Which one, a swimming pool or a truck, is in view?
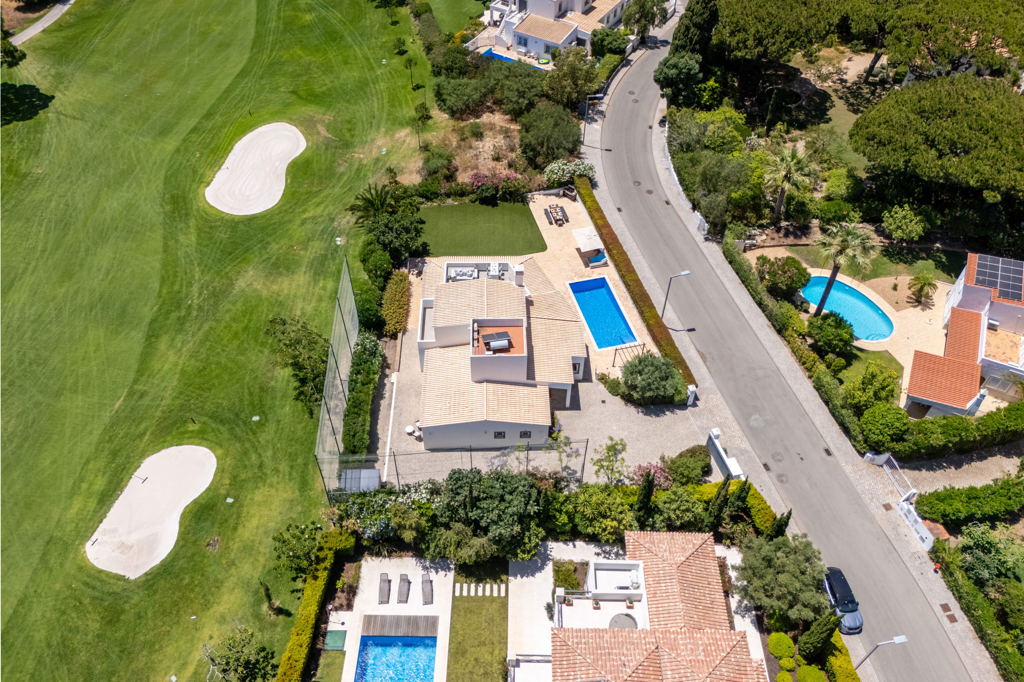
swimming pool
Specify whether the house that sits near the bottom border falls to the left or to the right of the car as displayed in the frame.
to the left of it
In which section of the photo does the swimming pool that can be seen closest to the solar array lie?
right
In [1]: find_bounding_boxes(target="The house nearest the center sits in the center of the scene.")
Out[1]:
[417,255,588,449]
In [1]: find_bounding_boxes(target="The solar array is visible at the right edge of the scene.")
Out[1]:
[979,253,1024,292]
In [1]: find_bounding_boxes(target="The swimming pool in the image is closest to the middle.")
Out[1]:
[564,274,642,352]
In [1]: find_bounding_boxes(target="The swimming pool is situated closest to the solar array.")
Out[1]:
[798,273,899,343]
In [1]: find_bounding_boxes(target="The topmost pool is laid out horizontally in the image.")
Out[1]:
[477,50,556,78]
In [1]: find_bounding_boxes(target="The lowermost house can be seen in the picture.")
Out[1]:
[505,528,760,682]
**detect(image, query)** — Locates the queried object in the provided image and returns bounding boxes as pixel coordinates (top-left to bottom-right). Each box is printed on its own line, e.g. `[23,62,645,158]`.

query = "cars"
[815,560,866,629]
